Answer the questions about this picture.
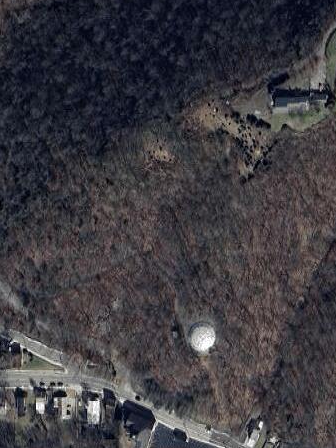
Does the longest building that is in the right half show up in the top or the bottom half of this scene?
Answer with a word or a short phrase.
top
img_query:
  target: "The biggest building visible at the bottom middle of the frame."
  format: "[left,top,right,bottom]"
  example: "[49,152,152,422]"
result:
[122,397,156,430]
